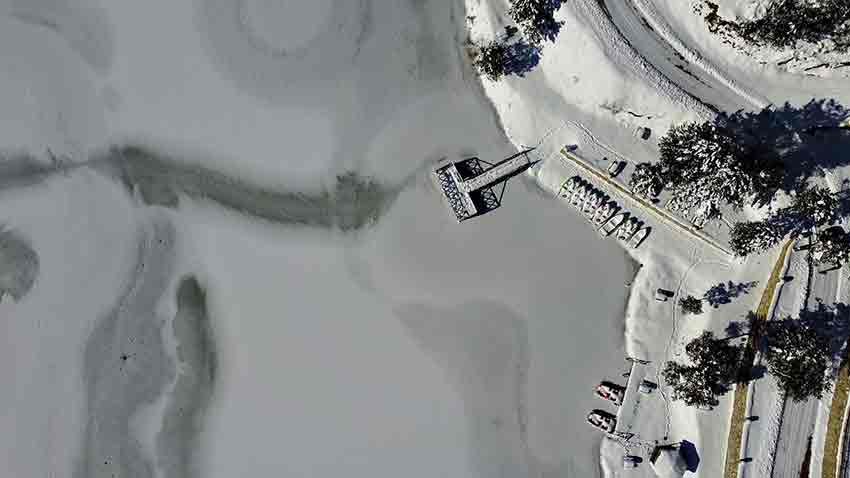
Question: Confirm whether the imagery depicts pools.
No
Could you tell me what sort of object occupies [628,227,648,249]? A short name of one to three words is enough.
boat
